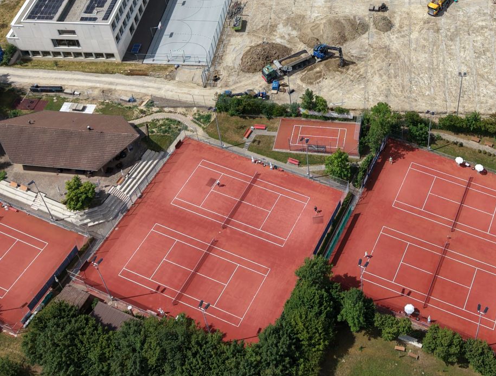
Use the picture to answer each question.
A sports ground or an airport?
sports ground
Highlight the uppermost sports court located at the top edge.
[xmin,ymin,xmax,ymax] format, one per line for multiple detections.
[143,0,226,65]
